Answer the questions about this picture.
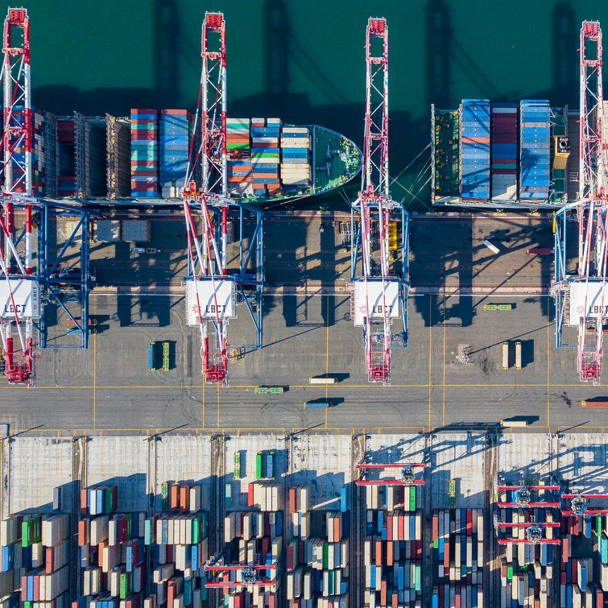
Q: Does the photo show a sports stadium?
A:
No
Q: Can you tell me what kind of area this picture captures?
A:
port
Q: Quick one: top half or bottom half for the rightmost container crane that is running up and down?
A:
top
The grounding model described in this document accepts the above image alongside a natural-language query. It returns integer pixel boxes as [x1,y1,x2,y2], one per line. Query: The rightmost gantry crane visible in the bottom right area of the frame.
[553,478,608,516]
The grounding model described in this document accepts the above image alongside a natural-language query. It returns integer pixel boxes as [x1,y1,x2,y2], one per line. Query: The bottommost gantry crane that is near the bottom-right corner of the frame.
[492,505,557,546]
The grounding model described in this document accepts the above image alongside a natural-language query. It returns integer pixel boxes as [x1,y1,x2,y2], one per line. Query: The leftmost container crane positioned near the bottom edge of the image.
[206,546,286,589]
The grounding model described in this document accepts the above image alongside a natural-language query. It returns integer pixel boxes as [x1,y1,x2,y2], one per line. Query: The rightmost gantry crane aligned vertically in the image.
[545,13,608,390]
